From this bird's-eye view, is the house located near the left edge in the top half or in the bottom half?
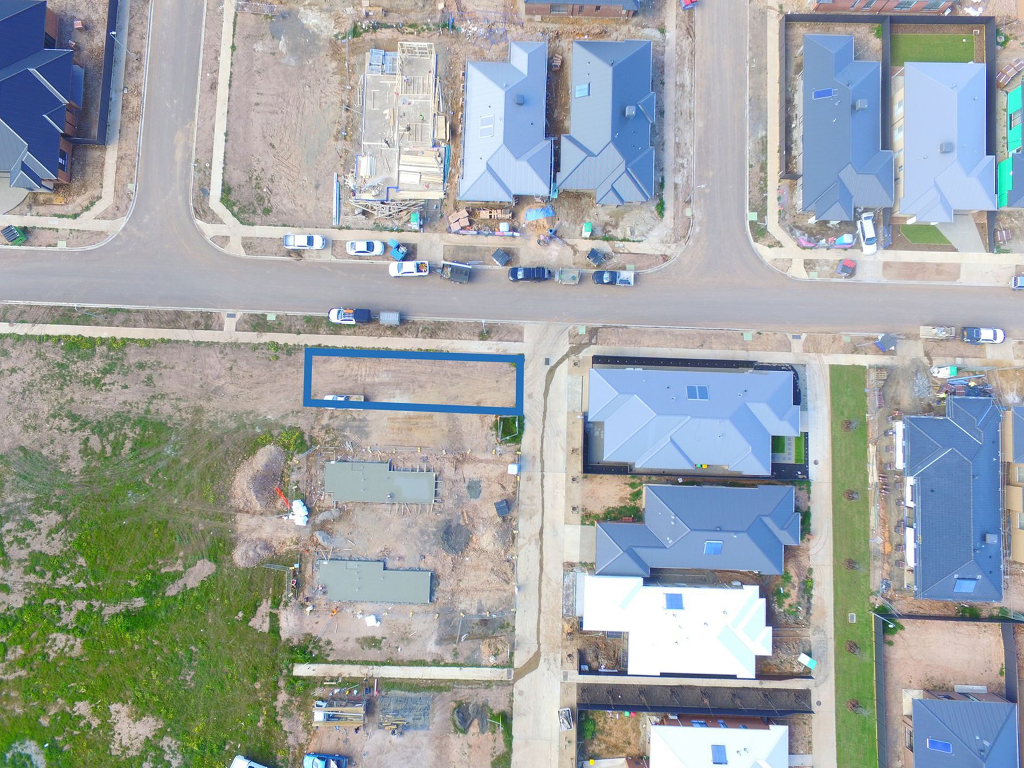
top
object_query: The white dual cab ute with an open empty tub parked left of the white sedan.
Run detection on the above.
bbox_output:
[280,231,323,249]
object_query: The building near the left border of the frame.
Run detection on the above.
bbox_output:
[0,0,85,191]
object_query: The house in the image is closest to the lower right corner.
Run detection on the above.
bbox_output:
[903,685,1020,768]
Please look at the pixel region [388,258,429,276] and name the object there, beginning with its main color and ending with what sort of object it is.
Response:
white vehicle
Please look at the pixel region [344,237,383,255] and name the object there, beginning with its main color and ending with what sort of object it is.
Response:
white car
